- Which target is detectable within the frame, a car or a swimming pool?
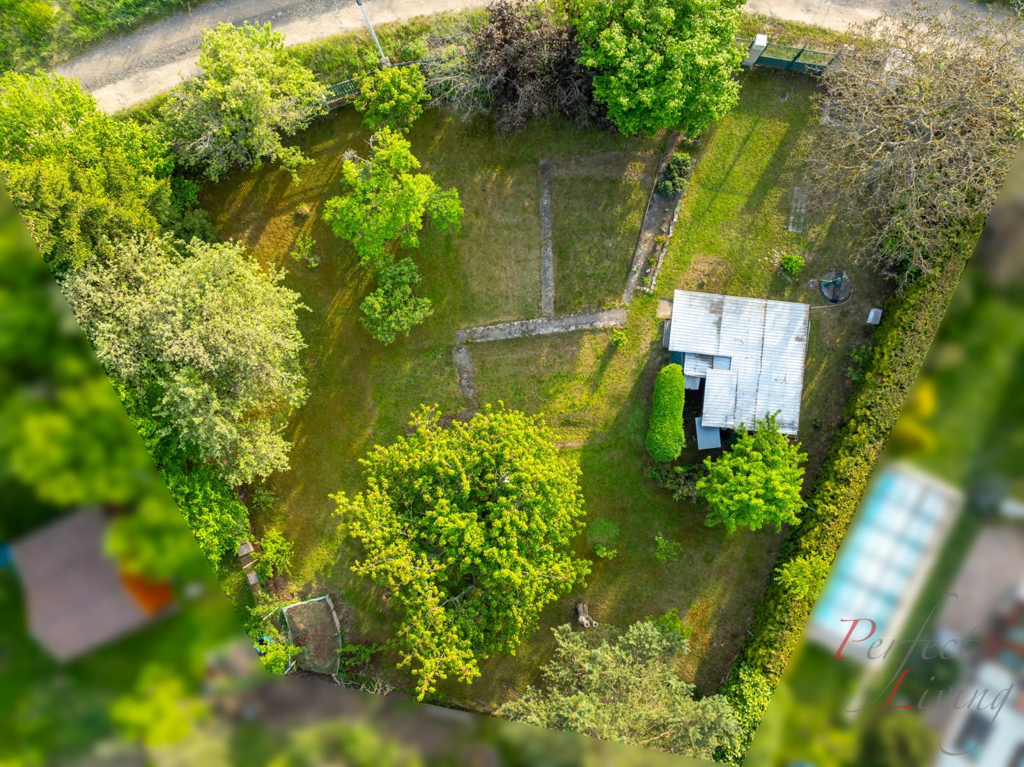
swimming pool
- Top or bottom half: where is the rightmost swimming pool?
bottom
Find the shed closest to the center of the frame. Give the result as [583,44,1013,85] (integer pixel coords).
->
[660,289,811,438]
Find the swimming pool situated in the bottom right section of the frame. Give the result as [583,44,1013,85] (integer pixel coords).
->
[812,470,962,672]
